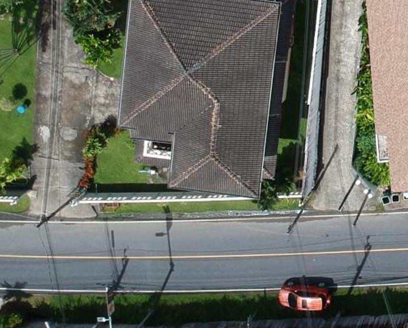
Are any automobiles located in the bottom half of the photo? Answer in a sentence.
Yes, I can see an automobile in the bottom half of the photo.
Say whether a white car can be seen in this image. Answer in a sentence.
No, there is no white car in the image.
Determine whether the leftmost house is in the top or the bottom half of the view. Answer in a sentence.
It is in the top half that the leftmost house appears.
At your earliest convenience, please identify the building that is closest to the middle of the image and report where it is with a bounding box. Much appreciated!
[117,0,296,198]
